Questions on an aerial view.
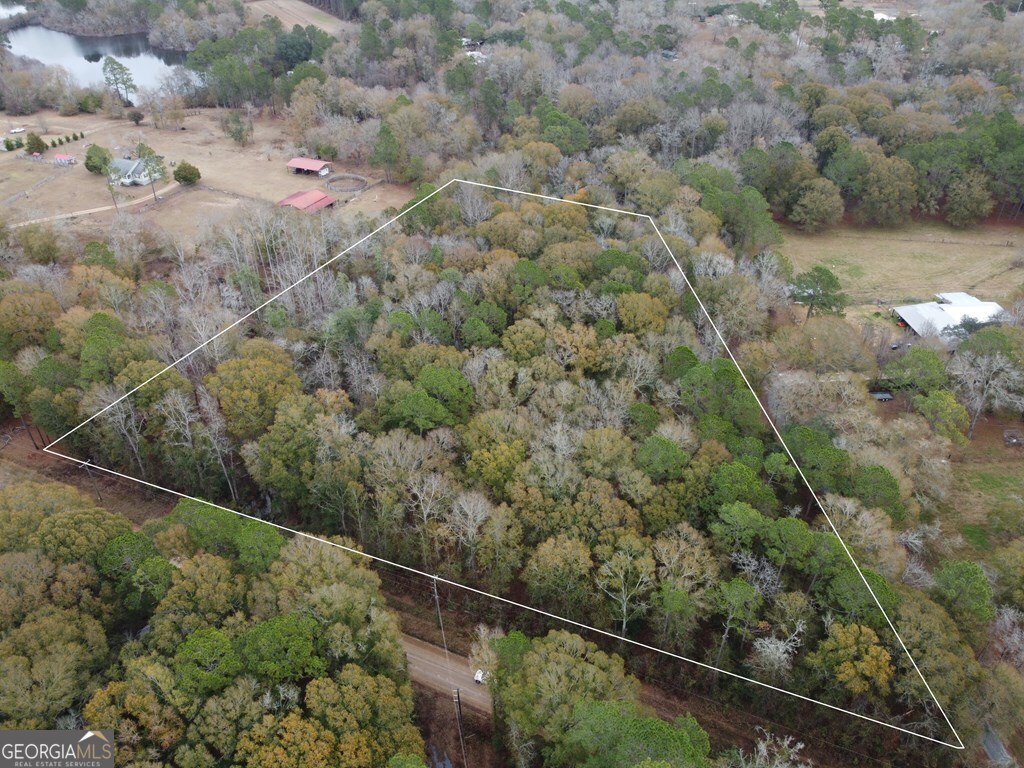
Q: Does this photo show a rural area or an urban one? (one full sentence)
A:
This place is rural.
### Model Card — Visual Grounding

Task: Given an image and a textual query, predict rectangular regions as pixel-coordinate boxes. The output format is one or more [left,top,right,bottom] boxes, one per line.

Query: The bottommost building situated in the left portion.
[274,189,339,224]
